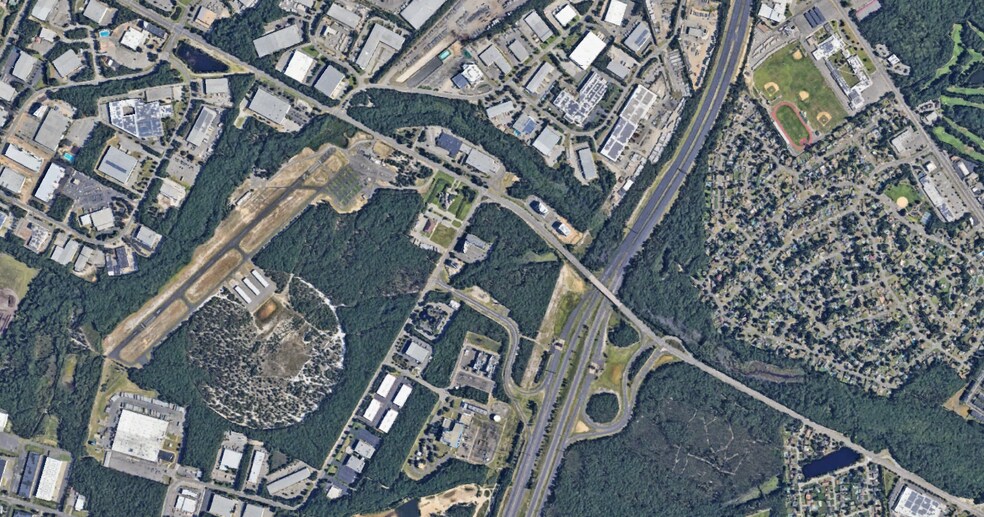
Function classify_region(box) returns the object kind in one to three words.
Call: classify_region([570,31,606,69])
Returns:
building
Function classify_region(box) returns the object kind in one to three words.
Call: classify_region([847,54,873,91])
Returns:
building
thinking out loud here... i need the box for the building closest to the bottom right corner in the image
[890,485,948,517]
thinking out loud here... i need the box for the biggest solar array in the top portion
[438,134,459,155]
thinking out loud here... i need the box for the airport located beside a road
[108,145,395,365]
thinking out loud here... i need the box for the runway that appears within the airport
[108,145,335,359]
